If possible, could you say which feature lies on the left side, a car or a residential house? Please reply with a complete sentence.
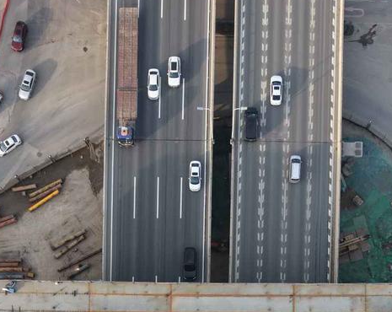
It is a car that can be seen on the left side.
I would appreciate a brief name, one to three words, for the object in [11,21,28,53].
car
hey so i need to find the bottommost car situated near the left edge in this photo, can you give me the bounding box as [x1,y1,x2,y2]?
[0,133,23,158]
